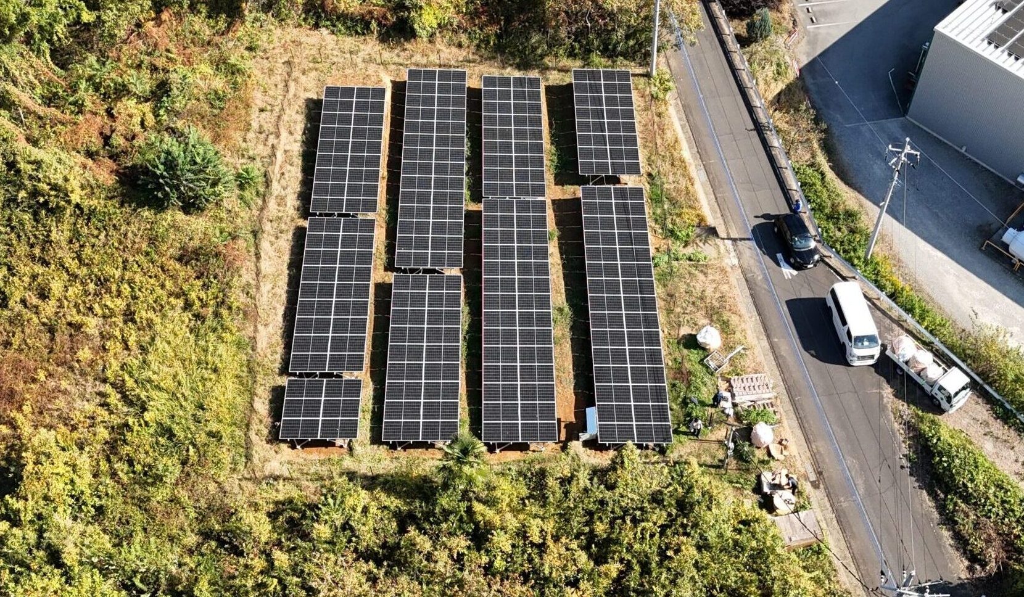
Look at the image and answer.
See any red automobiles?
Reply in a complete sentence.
No, there is no red automobile in the image.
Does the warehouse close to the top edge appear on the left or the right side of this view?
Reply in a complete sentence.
The warehouse close to the top edge sits on the right side.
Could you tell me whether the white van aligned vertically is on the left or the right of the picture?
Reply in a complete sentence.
The white van aligned vertically sits on the right side.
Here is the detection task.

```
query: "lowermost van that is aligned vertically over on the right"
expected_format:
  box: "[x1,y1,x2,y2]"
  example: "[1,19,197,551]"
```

[826,276,882,366]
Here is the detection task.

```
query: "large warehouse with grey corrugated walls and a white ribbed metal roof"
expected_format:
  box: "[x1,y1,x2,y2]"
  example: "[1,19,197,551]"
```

[904,0,1024,187]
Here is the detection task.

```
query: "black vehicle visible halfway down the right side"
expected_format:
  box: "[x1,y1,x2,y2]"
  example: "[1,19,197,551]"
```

[771,213,820,275]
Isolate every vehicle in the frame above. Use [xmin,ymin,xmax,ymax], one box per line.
[826,276,882,366]
[878,324,984,420]
[771,213,820,275]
